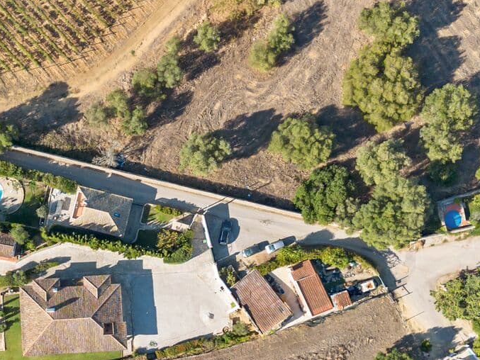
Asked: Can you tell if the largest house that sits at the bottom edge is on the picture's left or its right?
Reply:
left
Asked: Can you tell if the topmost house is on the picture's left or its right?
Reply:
left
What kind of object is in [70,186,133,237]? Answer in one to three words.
house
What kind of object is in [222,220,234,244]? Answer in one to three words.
vehicle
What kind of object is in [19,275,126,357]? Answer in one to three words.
house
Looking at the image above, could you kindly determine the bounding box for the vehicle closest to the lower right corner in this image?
[359,279,377,292]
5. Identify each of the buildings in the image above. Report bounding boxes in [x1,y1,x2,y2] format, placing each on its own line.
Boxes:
[70,186,133,237]
[330,290,351,310]
[231,270,292,332]
[288,261,333,318]
[0,237,21,263]
[19,275,126,357]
